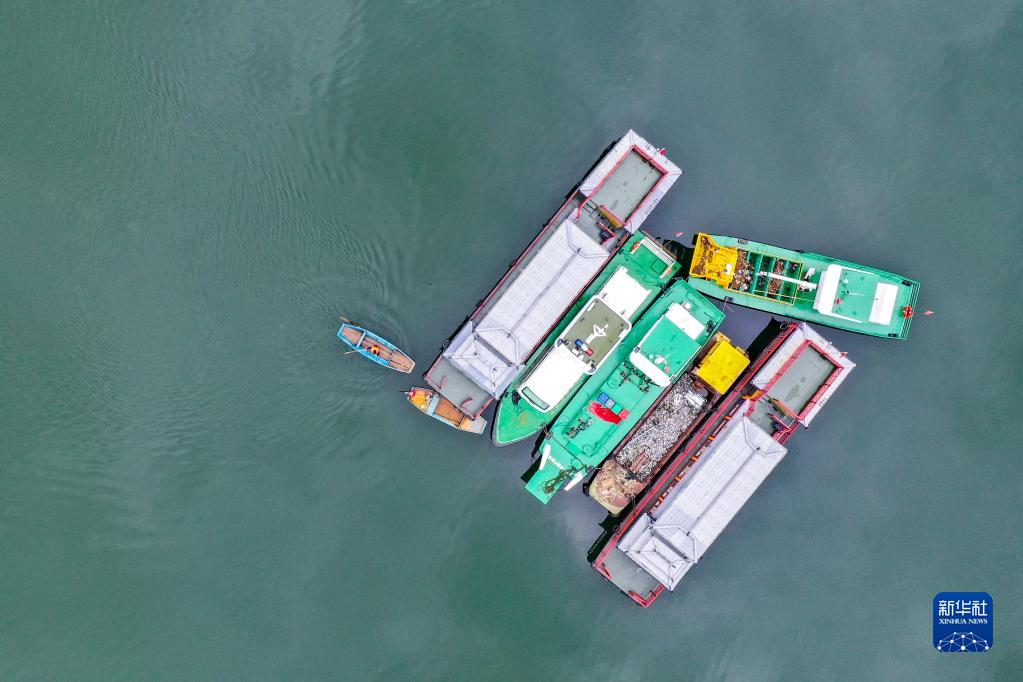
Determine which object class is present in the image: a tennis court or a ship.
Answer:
ship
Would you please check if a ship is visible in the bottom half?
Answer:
Yes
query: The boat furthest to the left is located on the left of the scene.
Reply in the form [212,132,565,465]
[337,324,416,373]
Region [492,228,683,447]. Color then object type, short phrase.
white boat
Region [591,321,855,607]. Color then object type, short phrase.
white ship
